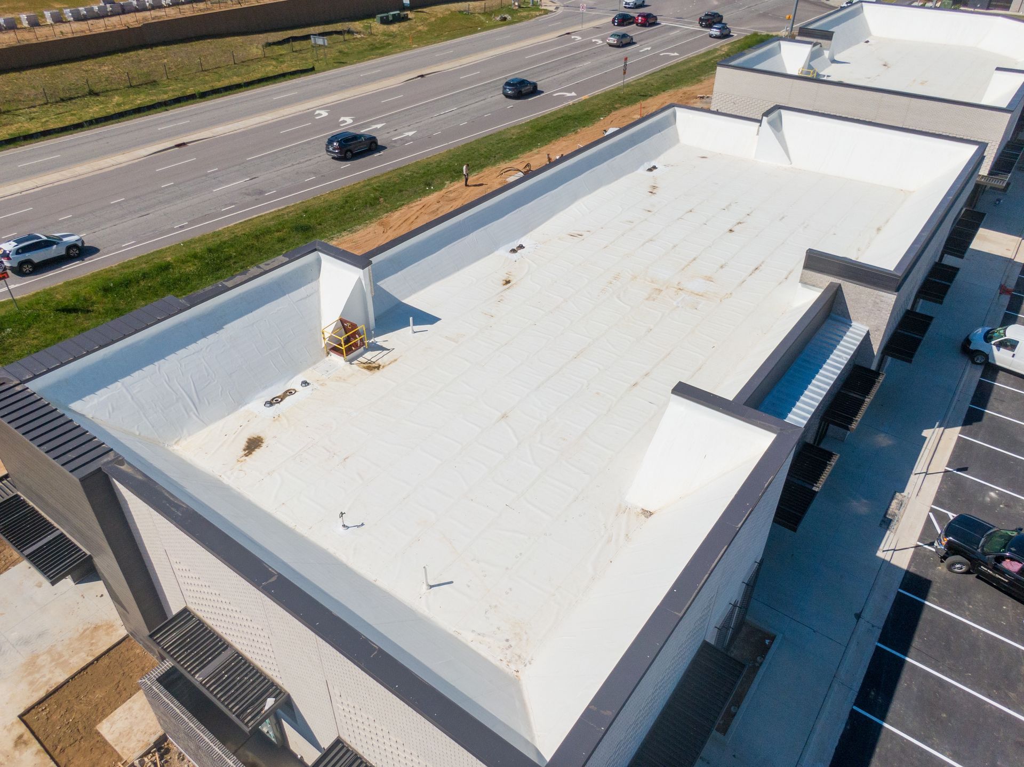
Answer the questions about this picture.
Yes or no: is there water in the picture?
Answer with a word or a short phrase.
No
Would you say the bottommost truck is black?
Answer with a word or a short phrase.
Yes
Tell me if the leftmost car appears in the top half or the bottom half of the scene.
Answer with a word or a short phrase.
top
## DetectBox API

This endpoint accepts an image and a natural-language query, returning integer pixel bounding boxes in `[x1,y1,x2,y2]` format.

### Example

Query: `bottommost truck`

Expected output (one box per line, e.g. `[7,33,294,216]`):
[932,512,1024,594]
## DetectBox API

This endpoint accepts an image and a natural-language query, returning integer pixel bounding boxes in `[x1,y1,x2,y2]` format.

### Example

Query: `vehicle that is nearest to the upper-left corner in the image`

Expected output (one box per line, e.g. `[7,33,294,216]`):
[0,233,86,273]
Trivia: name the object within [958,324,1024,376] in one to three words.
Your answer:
van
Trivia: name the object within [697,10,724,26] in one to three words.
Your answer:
vehicle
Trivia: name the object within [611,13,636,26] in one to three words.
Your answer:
vehicle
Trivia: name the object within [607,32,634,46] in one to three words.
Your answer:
car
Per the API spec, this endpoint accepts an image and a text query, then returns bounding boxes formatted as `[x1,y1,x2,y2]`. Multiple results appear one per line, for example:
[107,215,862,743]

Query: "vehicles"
[0,233,86,273]
[958,324,1024,376]
[697,10,724,26]
[607,32,634,46]
[611,13,636,26]
[623,0,646,8]
[636,13,659,27]
[324,130,380,158]
[710,22,731,37]
[932,512,1024,594]
[501,77,538,98]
